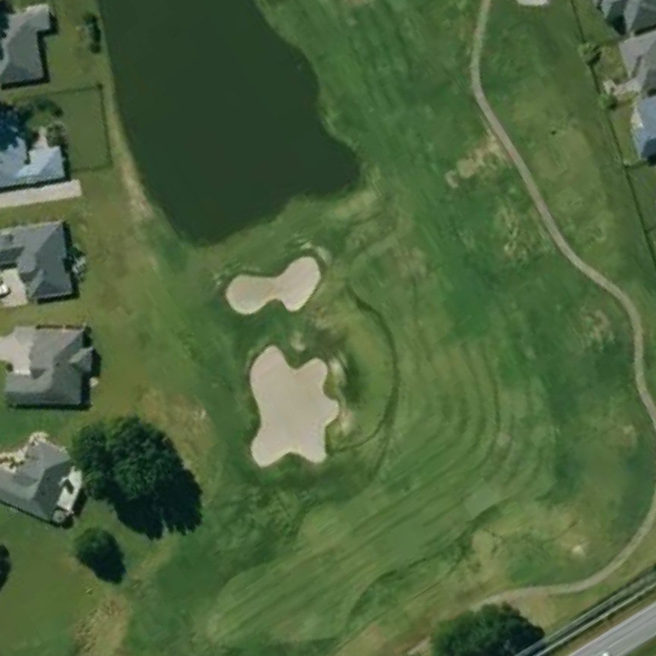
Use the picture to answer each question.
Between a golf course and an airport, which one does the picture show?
golf course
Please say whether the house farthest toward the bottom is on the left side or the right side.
left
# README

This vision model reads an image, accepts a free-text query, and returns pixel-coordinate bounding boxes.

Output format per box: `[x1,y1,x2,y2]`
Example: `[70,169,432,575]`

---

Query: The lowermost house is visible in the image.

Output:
[0,438,90,527]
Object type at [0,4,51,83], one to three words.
house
